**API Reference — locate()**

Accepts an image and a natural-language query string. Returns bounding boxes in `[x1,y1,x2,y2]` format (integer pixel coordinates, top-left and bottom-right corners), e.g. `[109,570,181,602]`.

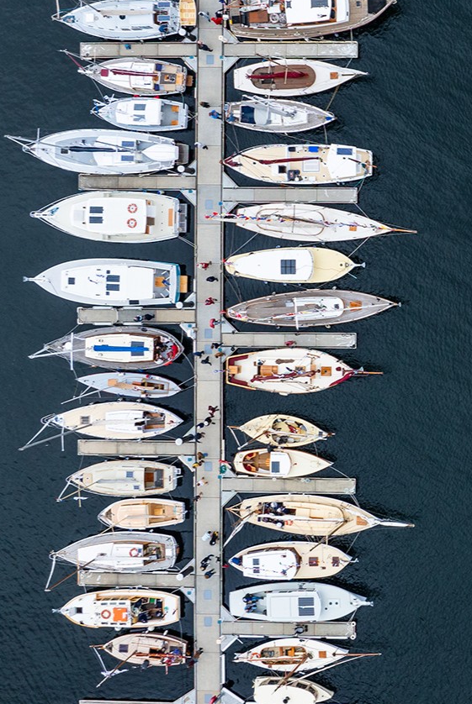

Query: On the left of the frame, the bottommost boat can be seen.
[89,632,192,688]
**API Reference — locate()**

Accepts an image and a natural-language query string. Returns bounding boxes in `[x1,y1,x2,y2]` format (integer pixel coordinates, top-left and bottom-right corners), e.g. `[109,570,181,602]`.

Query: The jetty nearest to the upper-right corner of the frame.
[224,28,358,72]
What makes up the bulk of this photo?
water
